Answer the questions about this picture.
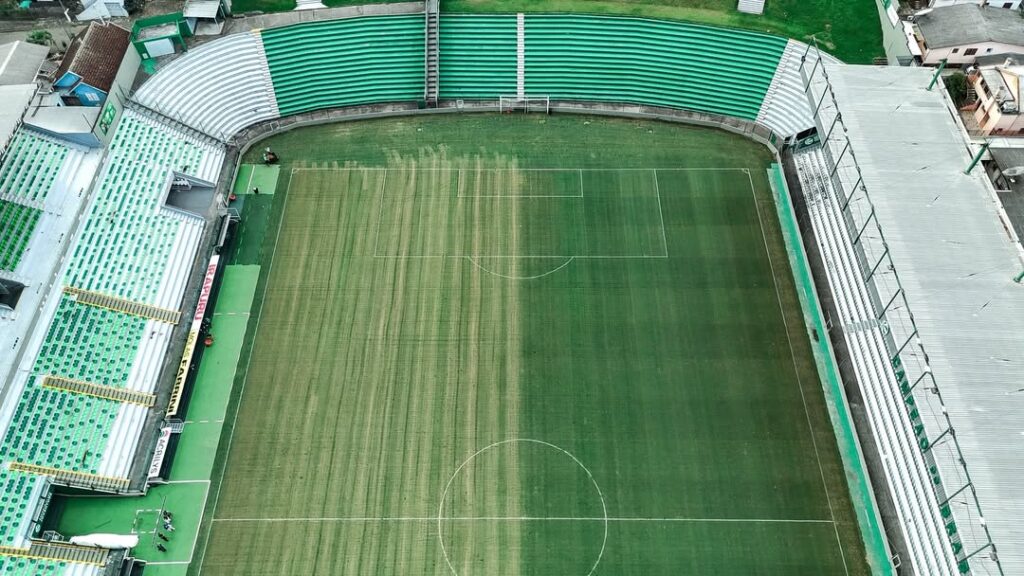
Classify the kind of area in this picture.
sports ground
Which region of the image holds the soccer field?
center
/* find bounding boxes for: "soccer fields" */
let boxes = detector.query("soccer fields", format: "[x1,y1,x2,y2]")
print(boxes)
[185,111,872,576]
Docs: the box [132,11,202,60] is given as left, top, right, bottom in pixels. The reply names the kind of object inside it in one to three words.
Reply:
building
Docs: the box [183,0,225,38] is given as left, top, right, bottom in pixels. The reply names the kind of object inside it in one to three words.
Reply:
shed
